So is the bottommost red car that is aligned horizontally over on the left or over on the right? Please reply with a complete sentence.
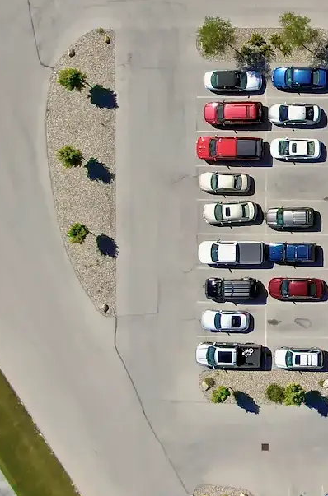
The bottommost red car that is aligned horizontally appears in the right half of the scene.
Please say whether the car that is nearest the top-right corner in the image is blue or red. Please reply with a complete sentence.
In this view, the car that is nearest the top-right corner is blue.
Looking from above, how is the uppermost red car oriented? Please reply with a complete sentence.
From this overhead view, the uppermost red car appears to run horizontally.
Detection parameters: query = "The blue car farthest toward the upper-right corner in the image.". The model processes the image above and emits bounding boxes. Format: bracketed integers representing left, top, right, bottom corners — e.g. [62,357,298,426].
[272,64,327,92]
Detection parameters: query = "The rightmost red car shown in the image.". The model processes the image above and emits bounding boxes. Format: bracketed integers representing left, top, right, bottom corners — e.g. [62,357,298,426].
[269,276,325,302]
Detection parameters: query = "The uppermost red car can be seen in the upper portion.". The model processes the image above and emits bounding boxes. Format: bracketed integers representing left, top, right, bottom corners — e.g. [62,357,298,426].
[204,99,262,126]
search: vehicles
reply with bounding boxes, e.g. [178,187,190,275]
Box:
[199,168,250,195]
[271,136,321,162]
[198,239,265,267]
[267,240,319,265]
[196,343,264,372]
[202,309,250,335]
[267,205,314,231]
[204,66,263,93]
[204,99,262,126]
[275,347,325,373]
[203,200,257,227]
[272,64,327,92]
[269,276,325,302]
[269,101,321,127]
[204,277,254,301]
[196,133,265,161]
